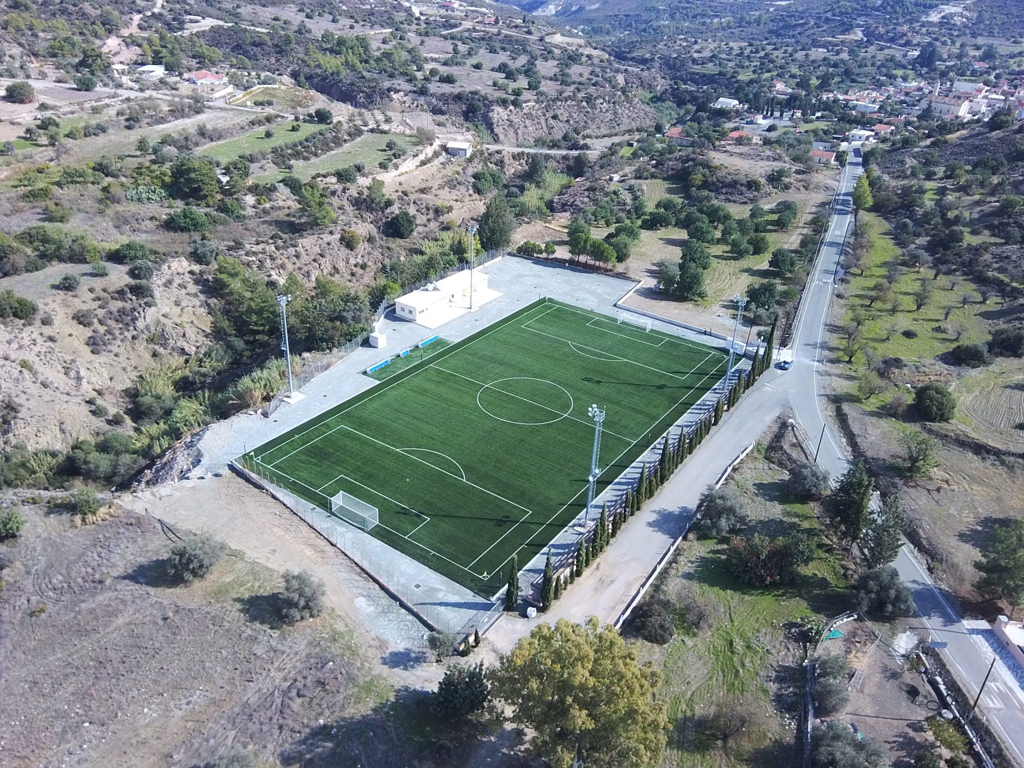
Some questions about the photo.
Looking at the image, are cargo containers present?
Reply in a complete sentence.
No, the scene contains no cargo container.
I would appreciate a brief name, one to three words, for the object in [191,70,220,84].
house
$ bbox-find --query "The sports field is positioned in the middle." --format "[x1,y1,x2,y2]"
[253,302,728,580]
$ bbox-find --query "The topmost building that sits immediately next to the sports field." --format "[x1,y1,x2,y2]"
[391,269,506,329]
